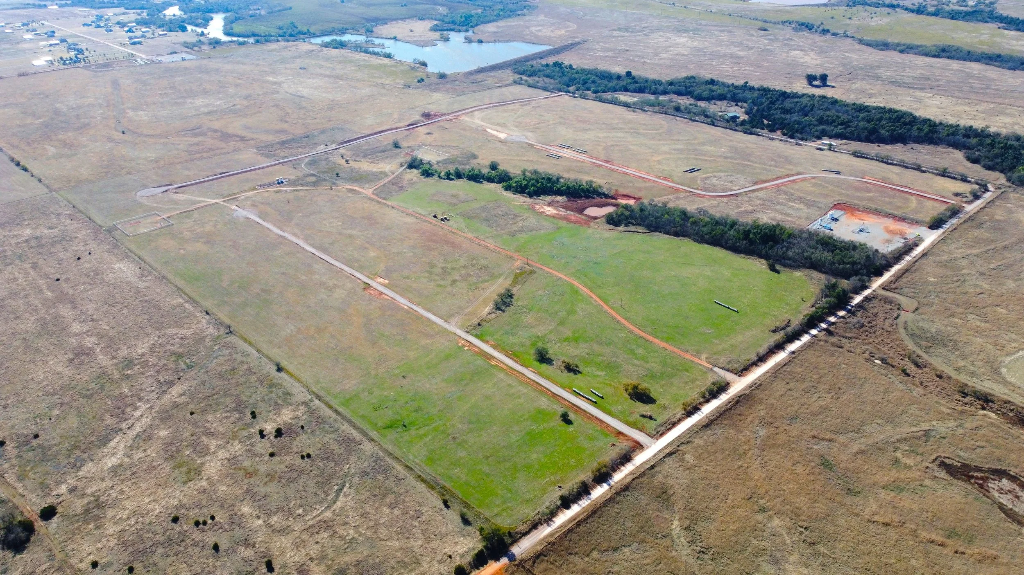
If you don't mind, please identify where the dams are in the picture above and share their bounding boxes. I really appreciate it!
[450,37,593,78]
